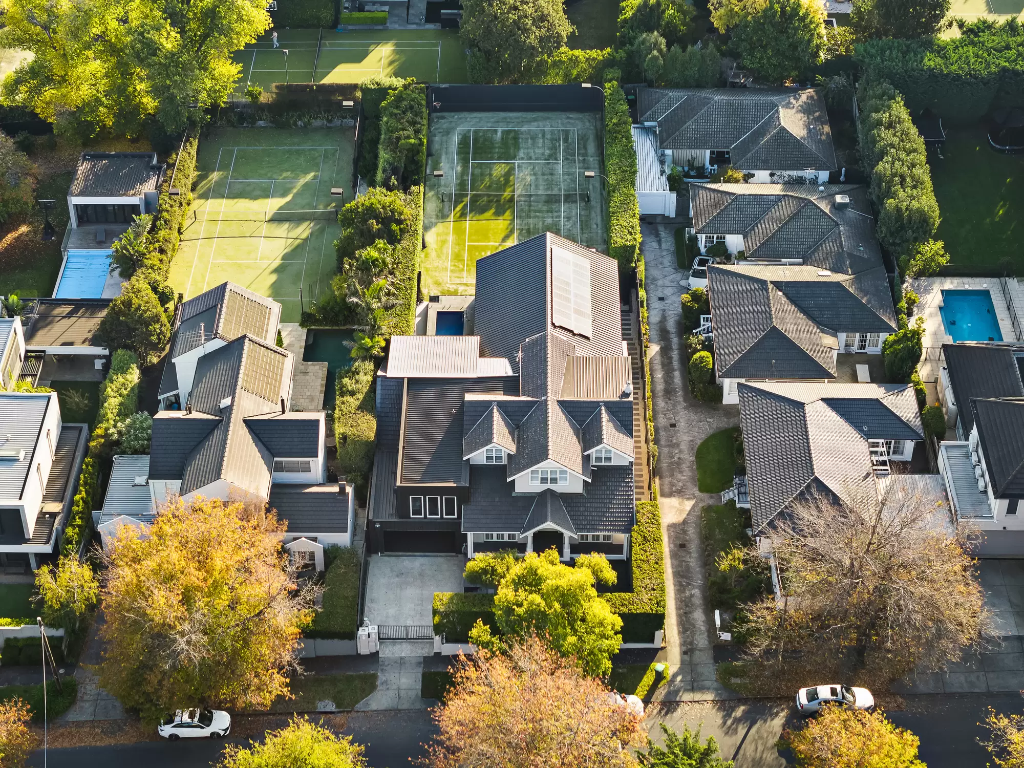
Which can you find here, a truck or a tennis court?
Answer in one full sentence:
The one in the frame is a tennis court.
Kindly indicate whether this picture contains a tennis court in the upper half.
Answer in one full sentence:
Yes, a tennis court can be seen in the upper half.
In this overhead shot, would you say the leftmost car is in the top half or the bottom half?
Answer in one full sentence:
Seen from above, the leftmost car lies in the bottom half of the view.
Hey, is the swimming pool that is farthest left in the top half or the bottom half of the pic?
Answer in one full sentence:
It is in the top half that the swimming pool that is farthest left appears.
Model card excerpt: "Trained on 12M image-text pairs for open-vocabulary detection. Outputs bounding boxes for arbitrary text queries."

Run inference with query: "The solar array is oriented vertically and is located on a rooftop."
[553,244,590,336]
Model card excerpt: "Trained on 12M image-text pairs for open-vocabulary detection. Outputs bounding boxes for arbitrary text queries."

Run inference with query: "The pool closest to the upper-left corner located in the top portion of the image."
[42,221,133,298]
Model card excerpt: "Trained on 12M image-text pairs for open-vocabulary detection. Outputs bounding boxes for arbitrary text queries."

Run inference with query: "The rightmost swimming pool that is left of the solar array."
[427,296,475,334]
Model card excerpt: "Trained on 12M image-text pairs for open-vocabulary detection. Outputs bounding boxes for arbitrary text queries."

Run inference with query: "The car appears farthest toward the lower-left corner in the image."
[158,705,230,740]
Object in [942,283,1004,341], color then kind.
blue swimming pool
